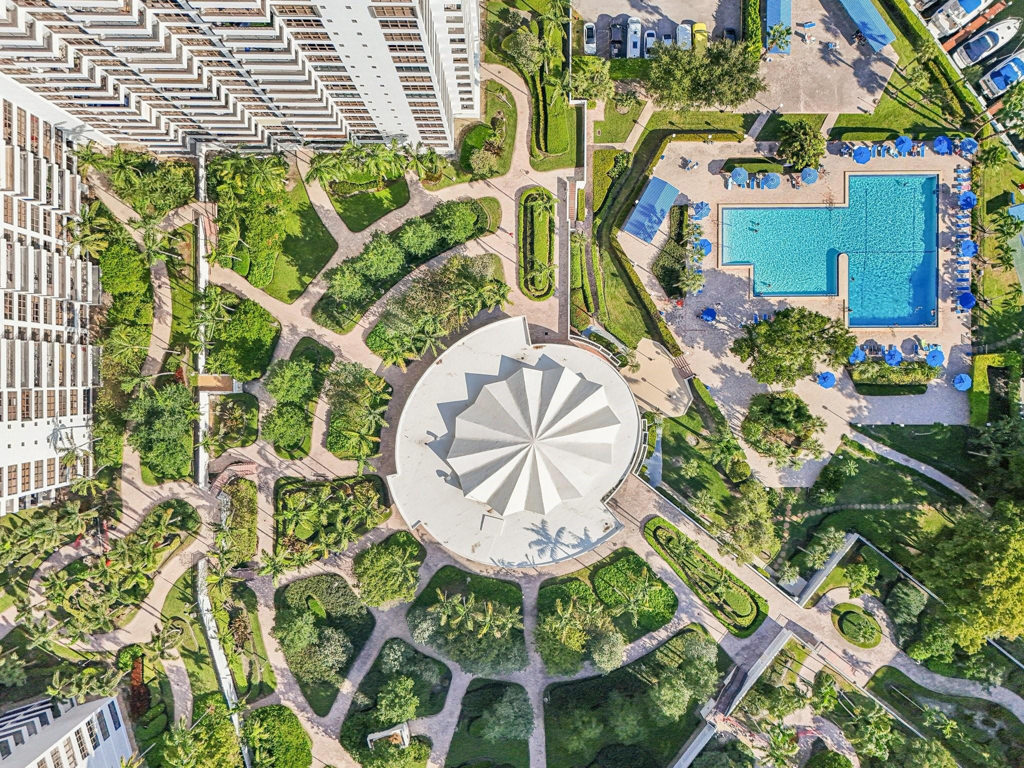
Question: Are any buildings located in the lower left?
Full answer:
Yes, the scene does show a building in the lower left.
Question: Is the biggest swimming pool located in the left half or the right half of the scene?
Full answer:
The biggest swimming pool appears in the right half of the scene.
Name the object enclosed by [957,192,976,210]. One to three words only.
umbrella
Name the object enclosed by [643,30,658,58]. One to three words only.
car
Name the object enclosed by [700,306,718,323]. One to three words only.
umbrella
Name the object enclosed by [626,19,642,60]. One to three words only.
vehicle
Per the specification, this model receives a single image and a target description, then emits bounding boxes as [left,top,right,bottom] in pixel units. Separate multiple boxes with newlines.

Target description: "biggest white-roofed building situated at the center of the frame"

[387,316,640,568]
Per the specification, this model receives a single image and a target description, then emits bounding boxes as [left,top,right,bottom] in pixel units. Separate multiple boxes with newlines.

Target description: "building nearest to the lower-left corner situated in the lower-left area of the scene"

[0,696,137,768]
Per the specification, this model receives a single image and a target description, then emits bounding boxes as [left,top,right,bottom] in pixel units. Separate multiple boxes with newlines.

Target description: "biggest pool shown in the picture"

[712,169,949,334]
